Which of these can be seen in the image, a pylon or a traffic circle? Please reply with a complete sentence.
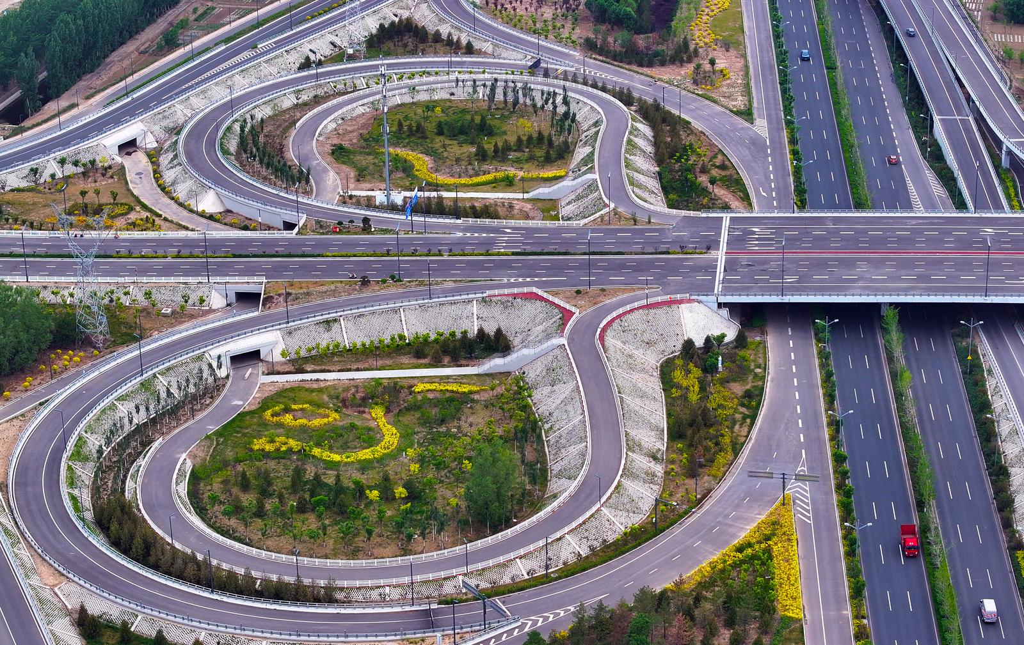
I can see a pylon in this picture.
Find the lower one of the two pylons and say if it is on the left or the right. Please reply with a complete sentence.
It is on the left.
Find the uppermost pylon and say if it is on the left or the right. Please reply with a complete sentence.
The uppermost pylon appears in the left half of the scene.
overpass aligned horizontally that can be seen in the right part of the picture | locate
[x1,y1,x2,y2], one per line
[718,216,1024,325]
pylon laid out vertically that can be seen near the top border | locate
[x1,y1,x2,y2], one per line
[342,0,369,60]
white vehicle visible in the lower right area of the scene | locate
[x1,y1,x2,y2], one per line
[981,601,997,622]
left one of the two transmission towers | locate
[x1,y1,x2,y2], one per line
[43,196,113,348]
